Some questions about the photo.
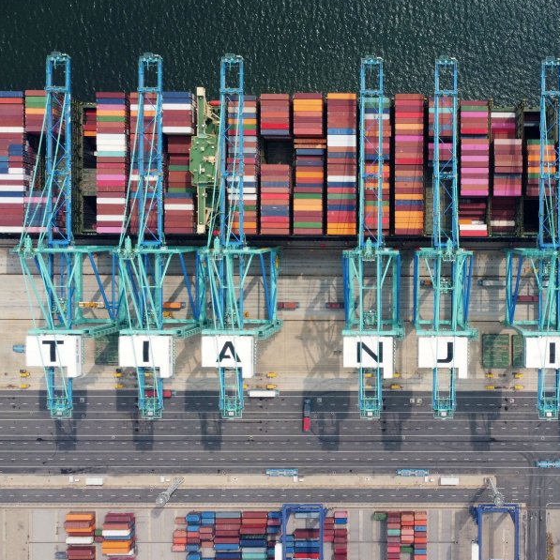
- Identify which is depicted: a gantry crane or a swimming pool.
gantry crane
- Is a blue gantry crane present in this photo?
Yes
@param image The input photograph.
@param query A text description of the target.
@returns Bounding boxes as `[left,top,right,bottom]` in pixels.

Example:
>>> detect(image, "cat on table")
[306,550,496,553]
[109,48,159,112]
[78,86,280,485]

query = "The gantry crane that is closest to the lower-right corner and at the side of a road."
[470,503,521,560]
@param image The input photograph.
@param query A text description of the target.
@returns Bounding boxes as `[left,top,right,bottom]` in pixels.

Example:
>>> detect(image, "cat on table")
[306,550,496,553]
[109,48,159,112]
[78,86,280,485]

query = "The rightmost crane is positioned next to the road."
[499,55,560,419]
